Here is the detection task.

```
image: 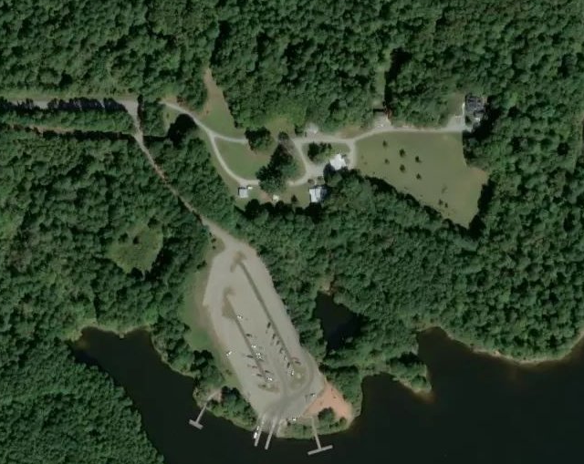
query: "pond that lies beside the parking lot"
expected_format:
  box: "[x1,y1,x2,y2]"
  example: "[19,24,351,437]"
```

[313,292,370,357]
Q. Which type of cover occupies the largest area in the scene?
trees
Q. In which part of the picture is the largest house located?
top right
